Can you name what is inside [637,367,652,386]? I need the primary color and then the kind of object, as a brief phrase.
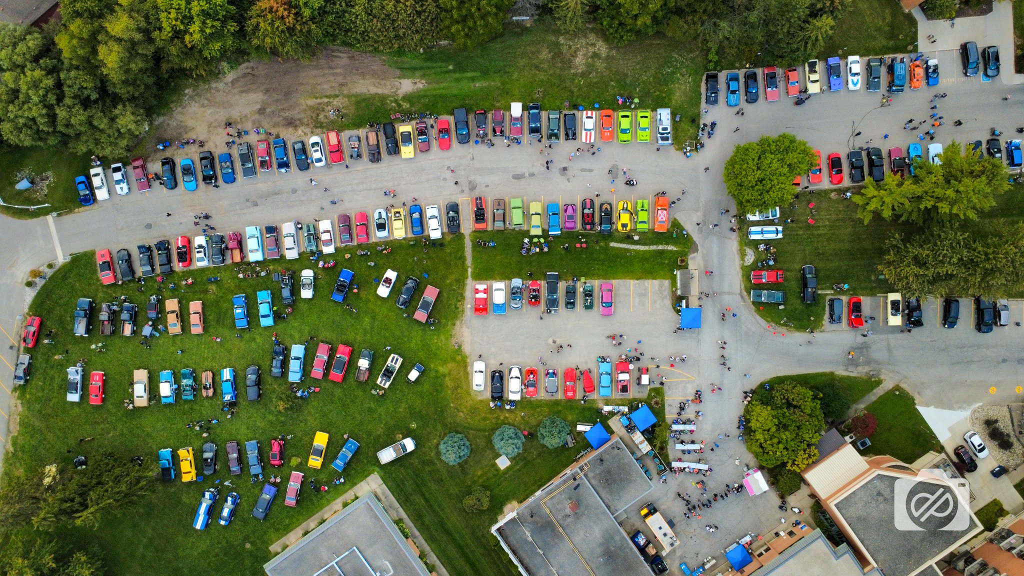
white work vehicle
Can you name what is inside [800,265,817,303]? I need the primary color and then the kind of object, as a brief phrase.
black vehicle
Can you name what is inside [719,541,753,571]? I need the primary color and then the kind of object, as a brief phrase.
blue tent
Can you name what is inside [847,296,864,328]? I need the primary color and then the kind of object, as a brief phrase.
red car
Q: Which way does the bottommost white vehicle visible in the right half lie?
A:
diagonally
